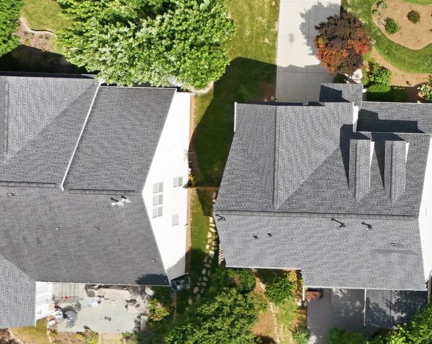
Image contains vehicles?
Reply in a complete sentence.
No, no vehicle is visible in the view.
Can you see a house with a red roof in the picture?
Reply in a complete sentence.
No, the picture doesn't show any house with a red roof.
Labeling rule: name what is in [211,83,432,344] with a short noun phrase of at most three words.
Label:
house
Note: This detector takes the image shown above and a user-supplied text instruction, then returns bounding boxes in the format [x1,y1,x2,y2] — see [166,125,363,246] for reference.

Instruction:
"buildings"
[0,71,186,328]
[211,83,432,344]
